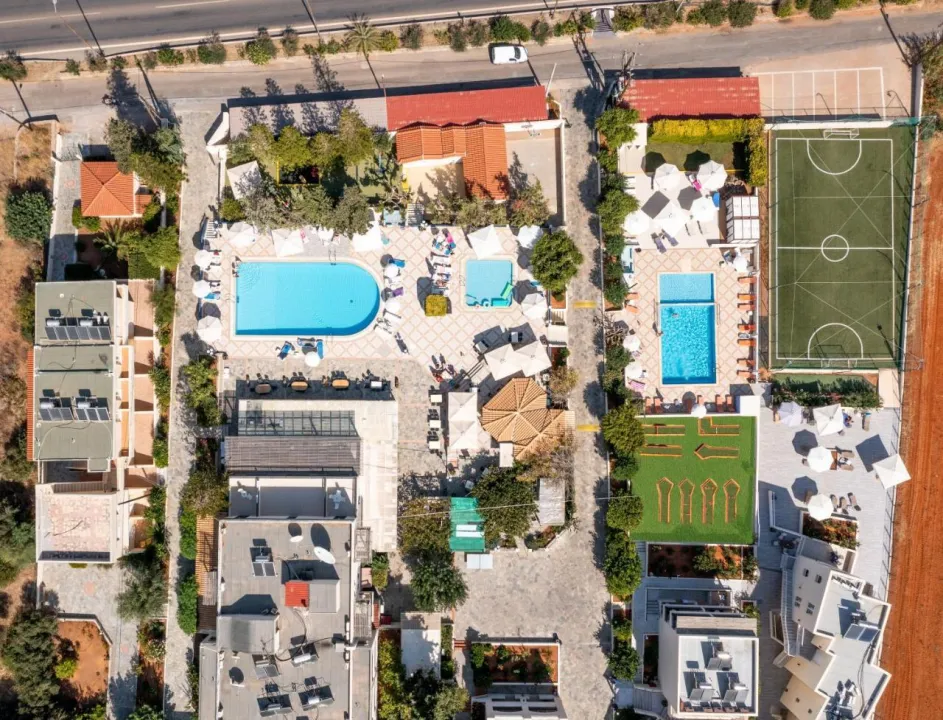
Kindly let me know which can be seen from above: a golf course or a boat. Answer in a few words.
golf course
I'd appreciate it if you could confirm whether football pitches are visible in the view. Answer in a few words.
Yes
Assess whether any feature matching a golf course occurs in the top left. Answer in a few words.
No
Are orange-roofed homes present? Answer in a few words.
Yes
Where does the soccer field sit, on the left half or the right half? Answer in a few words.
right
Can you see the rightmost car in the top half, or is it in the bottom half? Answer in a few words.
top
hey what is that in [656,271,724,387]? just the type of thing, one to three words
swimming pool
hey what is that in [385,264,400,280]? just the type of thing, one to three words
umbrella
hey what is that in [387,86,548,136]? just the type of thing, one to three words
shed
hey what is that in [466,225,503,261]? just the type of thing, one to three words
umbrella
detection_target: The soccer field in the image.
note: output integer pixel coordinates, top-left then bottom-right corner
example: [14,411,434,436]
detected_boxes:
[769,113,933,371]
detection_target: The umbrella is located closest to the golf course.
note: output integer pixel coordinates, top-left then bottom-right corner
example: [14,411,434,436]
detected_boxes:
[690,401,705,418]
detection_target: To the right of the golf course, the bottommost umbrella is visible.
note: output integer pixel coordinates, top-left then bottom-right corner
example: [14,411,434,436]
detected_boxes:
[805,493,832,519]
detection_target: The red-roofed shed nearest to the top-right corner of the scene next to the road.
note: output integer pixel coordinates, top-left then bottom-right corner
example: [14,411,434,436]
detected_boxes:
[626,77,760,128]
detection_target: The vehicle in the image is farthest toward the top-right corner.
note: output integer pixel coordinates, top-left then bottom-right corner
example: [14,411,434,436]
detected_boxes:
[491,41,528,63]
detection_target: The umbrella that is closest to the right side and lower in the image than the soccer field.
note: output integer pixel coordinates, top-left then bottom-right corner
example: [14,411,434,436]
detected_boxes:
[871,451,912,492]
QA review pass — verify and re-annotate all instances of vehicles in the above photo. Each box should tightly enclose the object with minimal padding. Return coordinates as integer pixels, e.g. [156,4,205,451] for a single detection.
[491,41,528,63]
[99,93,114,103]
